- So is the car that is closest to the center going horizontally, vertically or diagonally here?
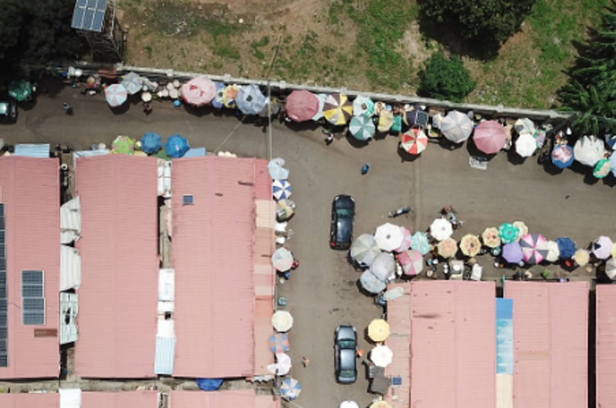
vertically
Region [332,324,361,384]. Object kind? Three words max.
car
